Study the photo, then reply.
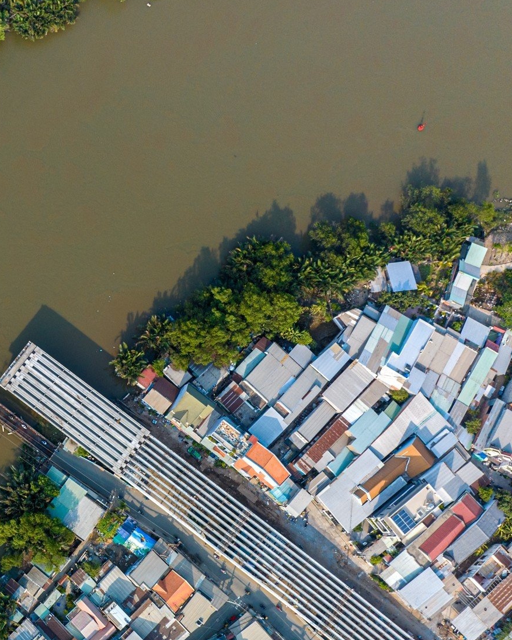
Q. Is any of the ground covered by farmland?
No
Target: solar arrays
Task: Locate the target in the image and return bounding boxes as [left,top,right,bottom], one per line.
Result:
[393,508,415,533]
